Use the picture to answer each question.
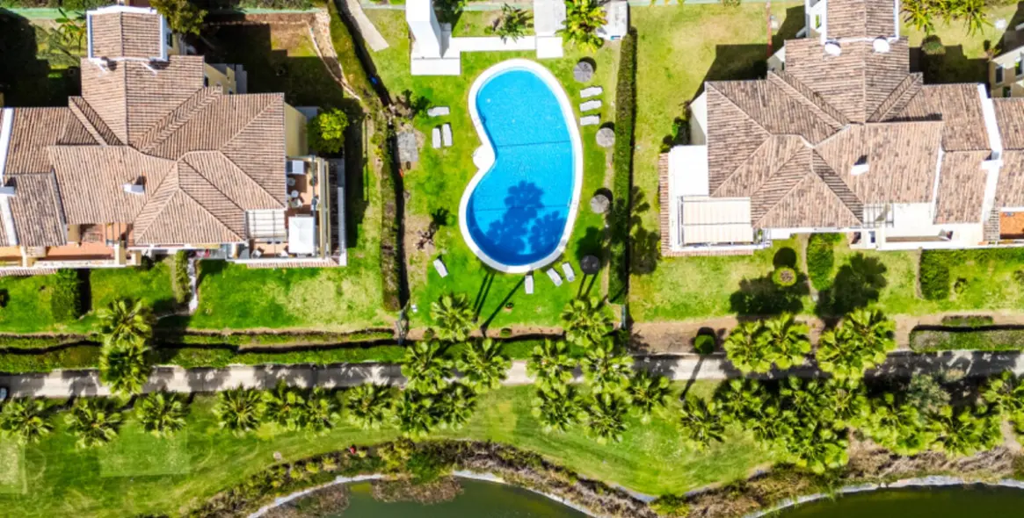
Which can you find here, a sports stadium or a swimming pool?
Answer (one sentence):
Visible in the photo is a swimming pool.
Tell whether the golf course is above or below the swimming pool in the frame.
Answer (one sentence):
Looking at the photo, you'll find the golf course below the swimming pool.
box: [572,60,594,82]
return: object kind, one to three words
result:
umbrella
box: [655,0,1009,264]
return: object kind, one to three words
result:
house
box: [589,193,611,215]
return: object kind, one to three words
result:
umbrella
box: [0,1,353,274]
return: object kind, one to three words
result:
house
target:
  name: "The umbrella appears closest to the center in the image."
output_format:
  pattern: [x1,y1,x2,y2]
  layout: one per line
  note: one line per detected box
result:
[579,253,601,275]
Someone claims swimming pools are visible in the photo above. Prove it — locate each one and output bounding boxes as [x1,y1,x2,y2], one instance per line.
[459,58,583,272]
